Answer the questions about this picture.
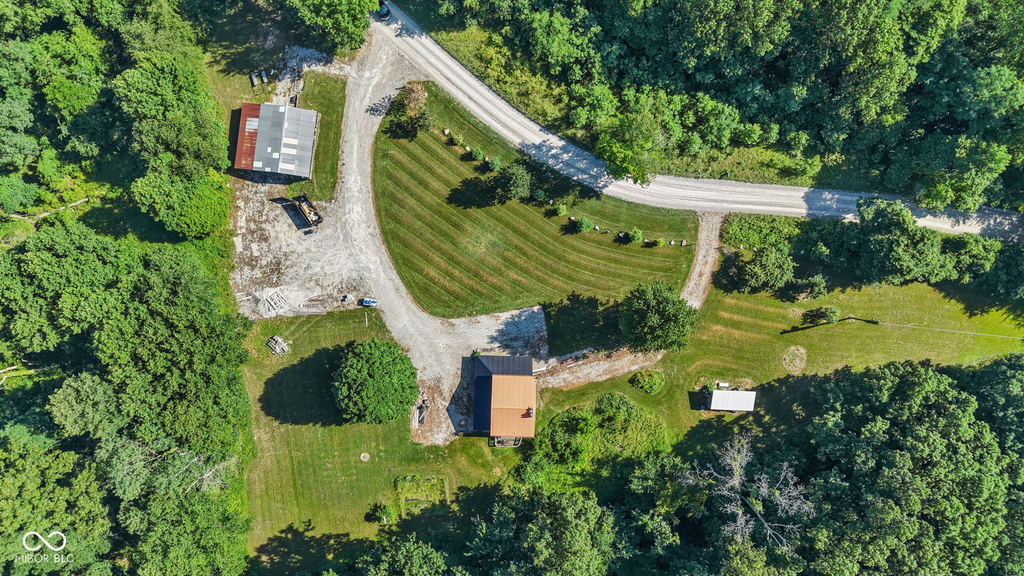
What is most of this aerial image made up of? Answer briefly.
trees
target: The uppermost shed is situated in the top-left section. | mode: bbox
[235,103,320,179]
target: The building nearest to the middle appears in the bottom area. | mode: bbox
[473,355,536,438]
